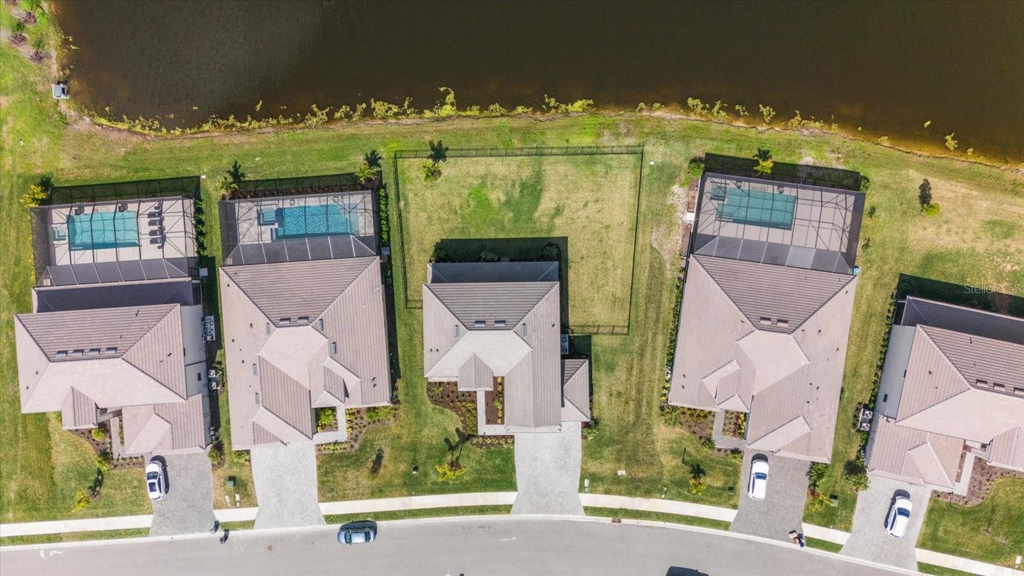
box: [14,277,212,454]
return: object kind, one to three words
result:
house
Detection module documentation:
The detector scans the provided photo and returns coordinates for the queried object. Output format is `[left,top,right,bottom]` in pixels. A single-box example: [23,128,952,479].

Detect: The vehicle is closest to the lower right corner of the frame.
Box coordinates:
[885,495,911,537]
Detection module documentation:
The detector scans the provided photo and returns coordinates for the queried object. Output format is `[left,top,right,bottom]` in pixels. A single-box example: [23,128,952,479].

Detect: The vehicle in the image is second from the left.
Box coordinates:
[338,523,377,543]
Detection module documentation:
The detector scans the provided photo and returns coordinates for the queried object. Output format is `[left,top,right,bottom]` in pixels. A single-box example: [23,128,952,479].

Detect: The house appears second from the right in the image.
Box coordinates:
[668,253,854,464]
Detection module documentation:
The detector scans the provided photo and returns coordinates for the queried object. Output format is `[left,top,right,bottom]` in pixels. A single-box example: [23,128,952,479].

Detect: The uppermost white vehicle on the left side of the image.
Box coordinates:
[146,458,169,500]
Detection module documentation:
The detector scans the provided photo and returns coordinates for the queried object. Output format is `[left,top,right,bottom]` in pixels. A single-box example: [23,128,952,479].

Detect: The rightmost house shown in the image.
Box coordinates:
[864,297,1024,487]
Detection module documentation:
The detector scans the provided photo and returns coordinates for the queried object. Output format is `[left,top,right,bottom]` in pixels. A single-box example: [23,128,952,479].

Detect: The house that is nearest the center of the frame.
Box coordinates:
[422,260,590,434]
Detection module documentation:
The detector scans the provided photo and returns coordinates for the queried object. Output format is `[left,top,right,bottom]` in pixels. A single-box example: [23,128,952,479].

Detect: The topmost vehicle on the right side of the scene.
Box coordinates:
[748,459,769,499]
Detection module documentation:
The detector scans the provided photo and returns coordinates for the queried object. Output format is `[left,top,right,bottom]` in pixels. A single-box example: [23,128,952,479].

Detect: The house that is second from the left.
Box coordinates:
[219,255,391,450]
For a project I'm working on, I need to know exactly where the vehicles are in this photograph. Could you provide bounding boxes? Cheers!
[885,495,911,537]
[146,458,169,500]
[338,523,377,543]
[748,459,769,499]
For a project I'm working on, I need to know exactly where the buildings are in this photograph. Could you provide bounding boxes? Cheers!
[864,297,1024,487]
[422,260,590,434]
[14,277,212,454]
[219,255,391,450]
[668,253,854,464]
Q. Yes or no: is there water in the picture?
Yes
